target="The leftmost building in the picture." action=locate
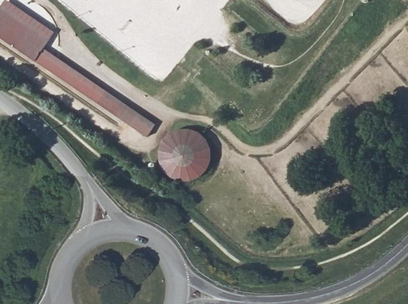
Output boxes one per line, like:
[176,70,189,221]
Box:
[0,0,54,60]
